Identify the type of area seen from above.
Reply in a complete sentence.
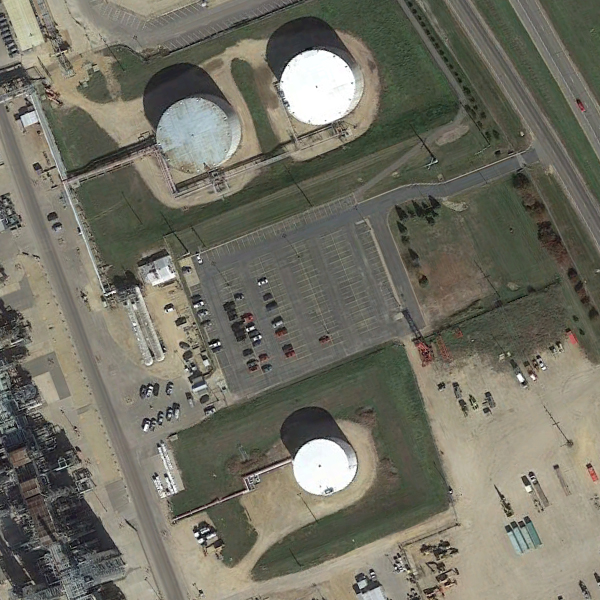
This image shows an industrial area.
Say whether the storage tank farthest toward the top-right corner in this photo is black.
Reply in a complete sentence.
No, the storage tank farthest toward the top-right corner is actually white.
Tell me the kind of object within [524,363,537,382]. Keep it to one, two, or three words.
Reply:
vehicle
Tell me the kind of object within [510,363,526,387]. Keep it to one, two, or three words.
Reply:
vehicle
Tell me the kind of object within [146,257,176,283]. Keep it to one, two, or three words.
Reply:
building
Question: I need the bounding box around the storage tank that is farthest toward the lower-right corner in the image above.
[292,433,360,498]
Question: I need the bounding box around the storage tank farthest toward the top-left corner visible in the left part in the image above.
[156,92,243,174]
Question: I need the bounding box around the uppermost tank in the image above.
[280,45,366,127]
